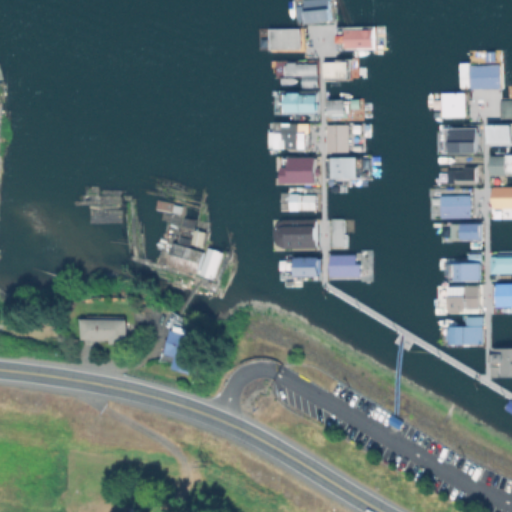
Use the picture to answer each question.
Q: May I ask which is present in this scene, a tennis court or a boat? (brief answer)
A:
boat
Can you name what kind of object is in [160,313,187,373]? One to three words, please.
house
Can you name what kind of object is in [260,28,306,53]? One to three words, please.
boat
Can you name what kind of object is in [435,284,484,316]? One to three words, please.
boat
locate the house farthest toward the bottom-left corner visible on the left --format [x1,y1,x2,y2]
[78,320,130,346]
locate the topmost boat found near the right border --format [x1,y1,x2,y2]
[460,50,506,90]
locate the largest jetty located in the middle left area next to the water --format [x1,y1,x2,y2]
[128,196,145,258]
